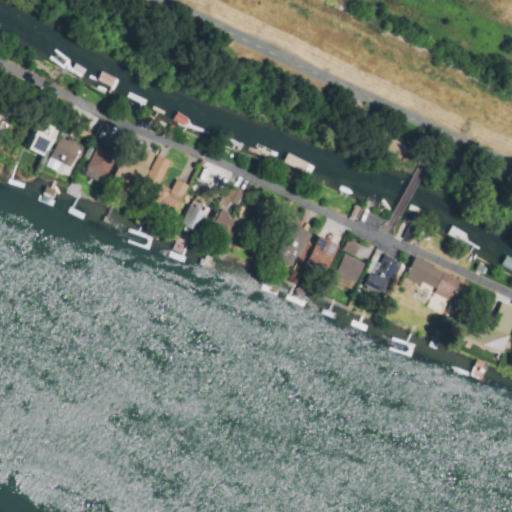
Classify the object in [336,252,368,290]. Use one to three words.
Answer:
house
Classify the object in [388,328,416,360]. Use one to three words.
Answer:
pier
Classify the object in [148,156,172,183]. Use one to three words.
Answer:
house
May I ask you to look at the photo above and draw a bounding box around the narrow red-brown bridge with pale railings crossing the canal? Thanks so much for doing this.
[380,162,425,235]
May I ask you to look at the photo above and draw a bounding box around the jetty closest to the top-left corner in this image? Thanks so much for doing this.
[50,48,83,79]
